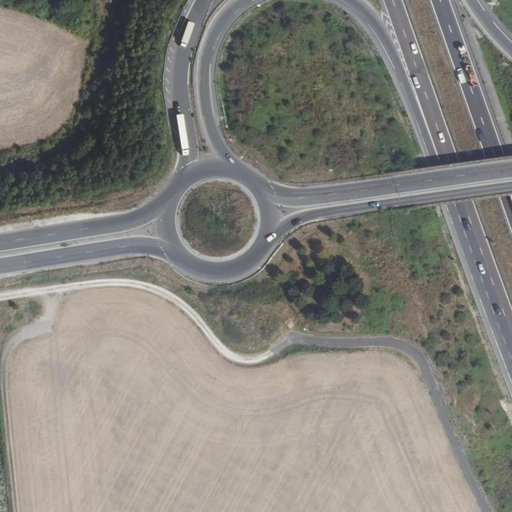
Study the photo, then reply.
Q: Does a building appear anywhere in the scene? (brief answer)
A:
No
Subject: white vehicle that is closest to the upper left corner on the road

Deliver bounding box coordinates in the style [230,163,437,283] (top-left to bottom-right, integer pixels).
[180,19,194,48]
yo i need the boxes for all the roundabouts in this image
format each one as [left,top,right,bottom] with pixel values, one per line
[127,131,300,285]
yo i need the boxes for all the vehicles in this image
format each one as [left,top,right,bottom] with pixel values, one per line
[438,131,445,143]
[462,218,470,230]
[458,48,478,87]
[370,202,380,208]
[494,302,502,315]
[478,262,486,274]
[180,19,194,48]
[291,218,302,226]
[457,68,467,84]
[266,233,276,242]
[410,41,417,52]
[412,75,420,88]
[477,130,484,141]
[178,113,189,156]
[226,152,236,163]
[468,66,476,84]
[174,102,179,112]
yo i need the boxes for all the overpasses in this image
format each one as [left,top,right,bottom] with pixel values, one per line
[392,156,512,212]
